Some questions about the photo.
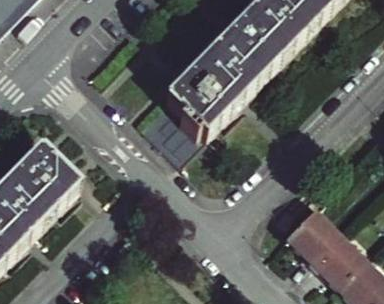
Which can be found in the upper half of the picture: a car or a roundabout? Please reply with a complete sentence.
There is a car in the upper half of the picture.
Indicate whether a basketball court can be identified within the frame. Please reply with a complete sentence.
No, there's no basketball court here.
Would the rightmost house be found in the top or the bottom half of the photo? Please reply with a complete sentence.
The rightmost house sits in the bottom half of the picture.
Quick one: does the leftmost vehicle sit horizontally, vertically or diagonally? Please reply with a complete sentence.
In this picture, the leftmost vehicle is oriented diagonally.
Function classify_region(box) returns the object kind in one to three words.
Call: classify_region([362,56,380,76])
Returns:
car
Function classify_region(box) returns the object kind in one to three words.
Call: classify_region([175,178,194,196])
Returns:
car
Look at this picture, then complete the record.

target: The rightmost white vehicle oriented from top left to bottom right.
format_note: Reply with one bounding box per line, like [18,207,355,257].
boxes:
[202,259,220,278]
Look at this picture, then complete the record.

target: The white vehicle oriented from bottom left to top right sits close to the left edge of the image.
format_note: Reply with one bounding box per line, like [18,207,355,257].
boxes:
[16,20,42,45]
